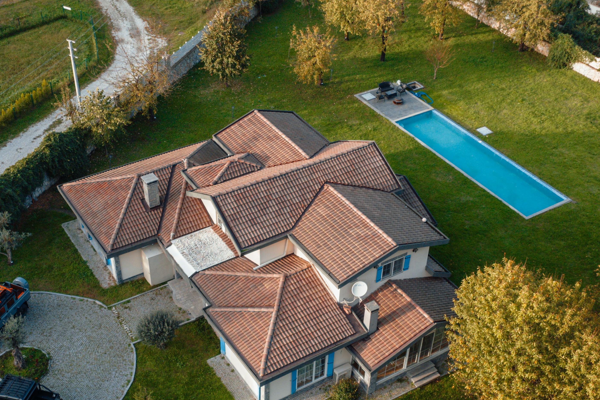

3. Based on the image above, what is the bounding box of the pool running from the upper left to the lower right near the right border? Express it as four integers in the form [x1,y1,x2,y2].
[394,109,575,219]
